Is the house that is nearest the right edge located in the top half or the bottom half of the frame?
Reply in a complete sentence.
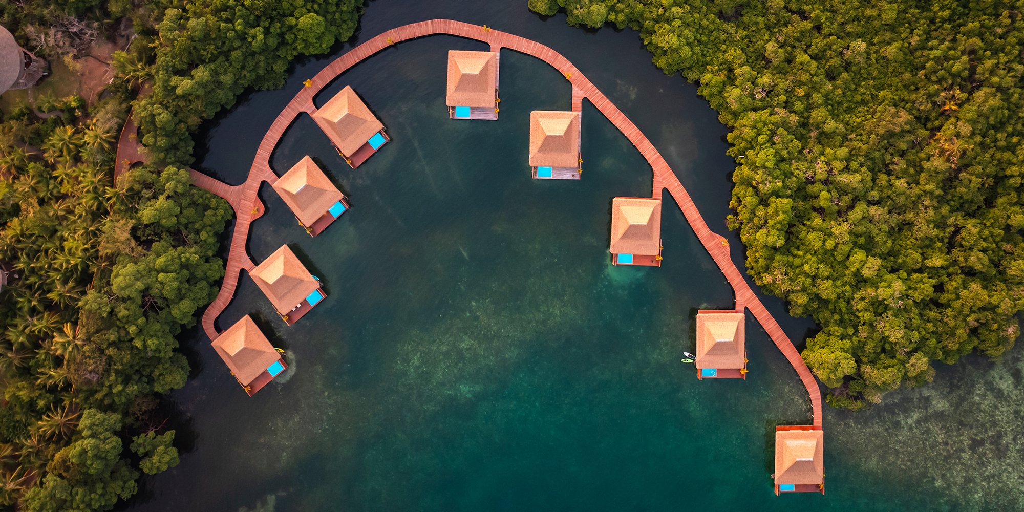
The bottom half of the photo is where the house that is nearest the right edge is.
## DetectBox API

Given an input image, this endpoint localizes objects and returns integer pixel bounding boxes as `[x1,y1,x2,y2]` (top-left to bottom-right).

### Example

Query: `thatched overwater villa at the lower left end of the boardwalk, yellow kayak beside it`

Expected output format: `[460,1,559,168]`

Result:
[210,313,290,397]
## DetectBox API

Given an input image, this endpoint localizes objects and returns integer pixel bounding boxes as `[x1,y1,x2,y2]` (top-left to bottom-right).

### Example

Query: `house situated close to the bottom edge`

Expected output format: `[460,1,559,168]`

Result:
[767,425,826,495]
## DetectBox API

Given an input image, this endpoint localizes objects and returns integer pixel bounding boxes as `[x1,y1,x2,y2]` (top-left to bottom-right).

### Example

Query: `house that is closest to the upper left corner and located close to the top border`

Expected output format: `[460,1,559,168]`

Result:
[0,23,47,102]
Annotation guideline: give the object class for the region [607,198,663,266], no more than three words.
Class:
house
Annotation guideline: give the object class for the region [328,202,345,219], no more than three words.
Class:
swimming pool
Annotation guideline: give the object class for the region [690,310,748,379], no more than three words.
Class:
house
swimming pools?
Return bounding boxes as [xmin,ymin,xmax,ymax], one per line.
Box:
[367,133,385,150]
[267,359,284,375]
[305,290,323,306]
[456,106,470,117]
[328,202,345,219]
[538,166,552,177]
[702,368,716,376]
[780,485,794,491]
[619,254,633,263]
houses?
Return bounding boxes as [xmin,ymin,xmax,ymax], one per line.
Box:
[248,244,329,327]
[271,155,352,240]
[607,198,663,266]
[527,111,582,179]
[445,51,500,121]
[767,425,826,495]
[311,85,391,171]
[210,313,290,397]
[690,310,748,379]
[0,23,47,102]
